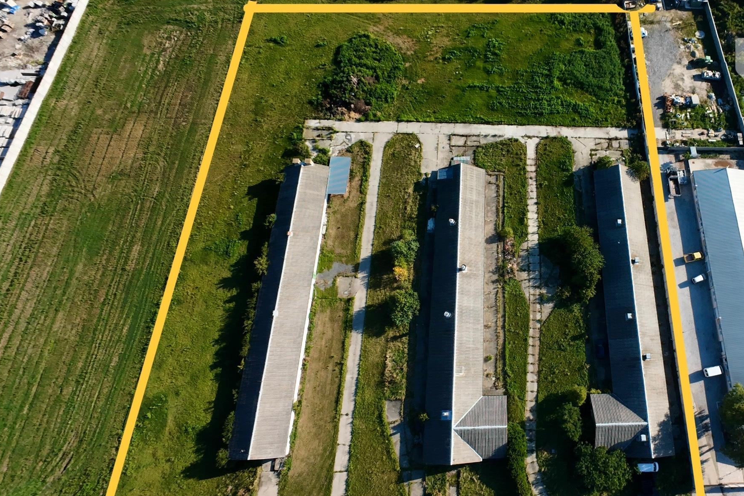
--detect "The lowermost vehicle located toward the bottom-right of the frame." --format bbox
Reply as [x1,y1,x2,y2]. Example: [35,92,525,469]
[635,461,660,474]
